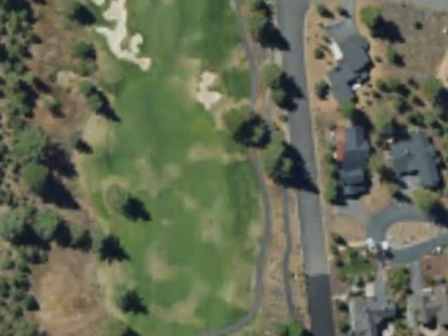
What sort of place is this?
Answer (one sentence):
This looks like a golf course.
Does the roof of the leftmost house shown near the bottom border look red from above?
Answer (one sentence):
No, from above the roof of the leftmost house shown near the bottom border looks gray.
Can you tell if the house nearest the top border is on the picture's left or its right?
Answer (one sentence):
It is on the right.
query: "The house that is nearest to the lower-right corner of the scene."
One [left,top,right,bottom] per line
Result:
[407,285,448,336]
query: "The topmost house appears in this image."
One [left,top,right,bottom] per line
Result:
[334,25,374,104]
